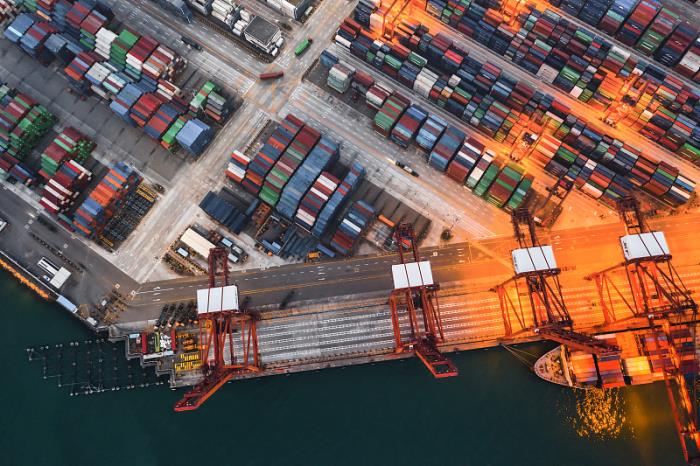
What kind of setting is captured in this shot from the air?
port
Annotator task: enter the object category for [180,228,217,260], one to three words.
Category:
shed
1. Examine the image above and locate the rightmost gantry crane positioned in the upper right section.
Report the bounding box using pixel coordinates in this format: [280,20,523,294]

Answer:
[603,67,651,121]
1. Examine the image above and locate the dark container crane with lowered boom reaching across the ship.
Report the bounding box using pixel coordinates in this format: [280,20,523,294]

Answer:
[578,197,700,458]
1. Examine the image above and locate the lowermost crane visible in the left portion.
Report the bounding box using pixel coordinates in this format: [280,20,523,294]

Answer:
[172,247,265,417]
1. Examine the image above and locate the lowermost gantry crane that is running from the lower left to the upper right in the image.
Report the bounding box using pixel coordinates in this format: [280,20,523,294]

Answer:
[529,173,573,226]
